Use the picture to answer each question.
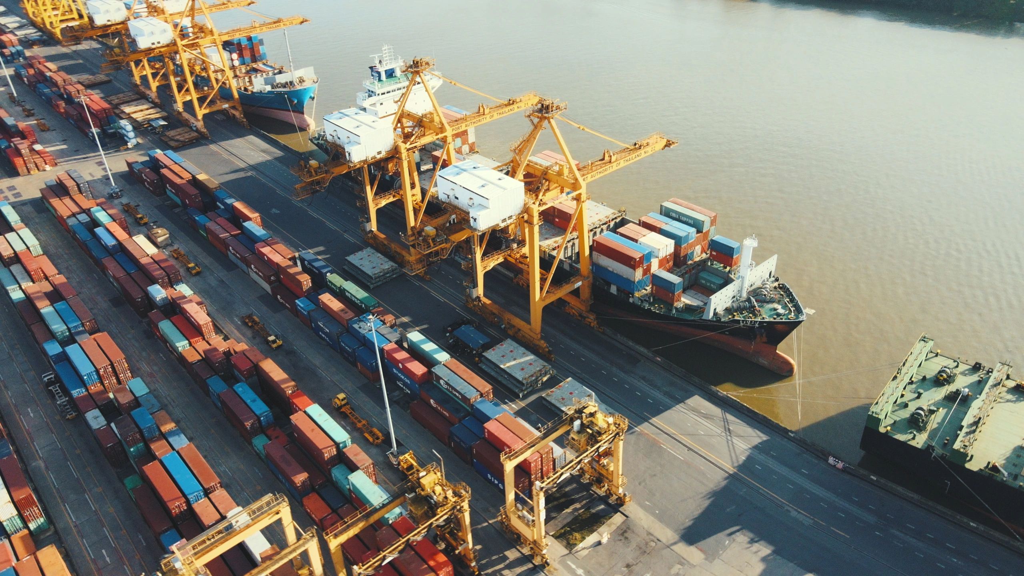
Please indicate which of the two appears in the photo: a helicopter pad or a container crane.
container crane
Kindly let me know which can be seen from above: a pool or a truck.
truck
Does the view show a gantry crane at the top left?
Yes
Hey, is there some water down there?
Yes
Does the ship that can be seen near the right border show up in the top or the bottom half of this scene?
bottom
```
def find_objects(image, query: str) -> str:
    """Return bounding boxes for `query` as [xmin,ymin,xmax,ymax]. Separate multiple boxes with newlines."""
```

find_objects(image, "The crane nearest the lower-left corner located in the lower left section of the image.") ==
[163,489,337,576]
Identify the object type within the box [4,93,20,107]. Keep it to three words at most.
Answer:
vehicle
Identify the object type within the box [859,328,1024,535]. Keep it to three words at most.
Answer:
ship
